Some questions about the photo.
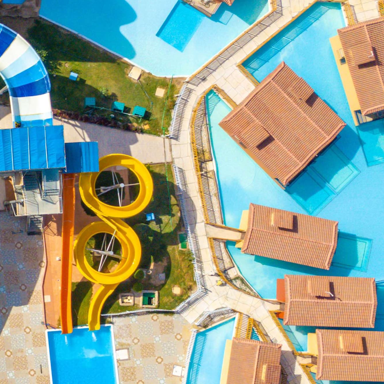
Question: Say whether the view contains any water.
Yes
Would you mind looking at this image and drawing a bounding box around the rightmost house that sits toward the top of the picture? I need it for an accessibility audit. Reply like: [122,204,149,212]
[330,14,384,128]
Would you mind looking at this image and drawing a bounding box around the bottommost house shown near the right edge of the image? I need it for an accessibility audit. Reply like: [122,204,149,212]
[305,329,384,382]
